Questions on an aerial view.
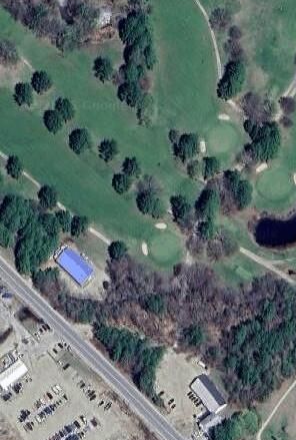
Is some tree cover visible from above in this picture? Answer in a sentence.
Yes, the picture does contain tree cover.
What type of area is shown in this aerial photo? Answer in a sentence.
What you see here is a golf course.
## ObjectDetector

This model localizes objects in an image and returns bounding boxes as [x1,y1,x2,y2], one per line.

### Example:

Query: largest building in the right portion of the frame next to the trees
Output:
[188,374,229,415]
